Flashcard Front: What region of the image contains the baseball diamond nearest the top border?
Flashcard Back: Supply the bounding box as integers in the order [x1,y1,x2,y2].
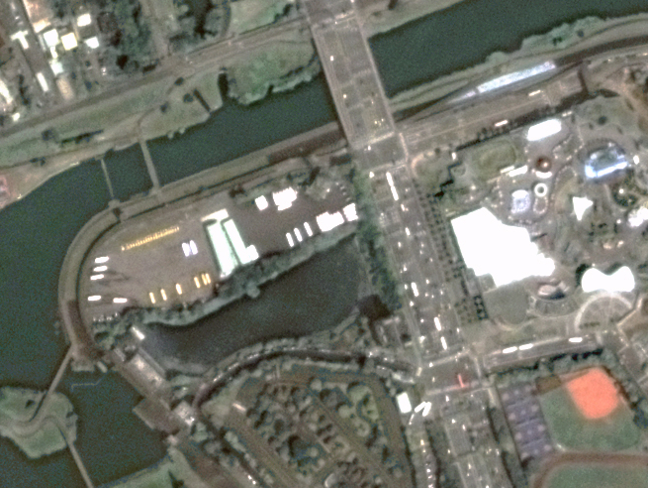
[542,368,639,451]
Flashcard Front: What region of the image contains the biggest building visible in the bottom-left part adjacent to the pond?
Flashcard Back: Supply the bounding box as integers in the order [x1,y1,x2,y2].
[124,354,164,394]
